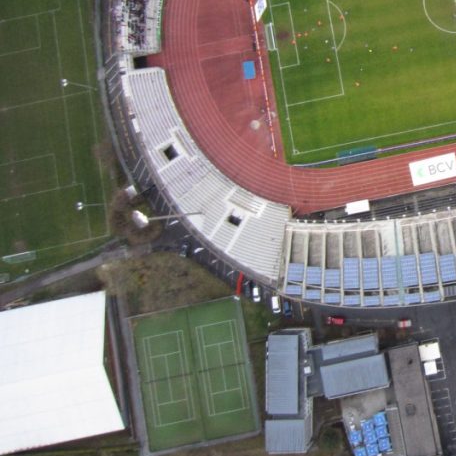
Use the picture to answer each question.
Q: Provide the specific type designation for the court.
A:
tennis court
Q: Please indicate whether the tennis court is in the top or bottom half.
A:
bottom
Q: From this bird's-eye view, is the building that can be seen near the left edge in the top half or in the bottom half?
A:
bottom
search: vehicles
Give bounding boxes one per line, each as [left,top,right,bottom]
[282,300,292,317]
[270,295,280,314]
[396,319,413,328]
[245,282,253,299]
[325,316,344,326]
[253,286,262,303]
